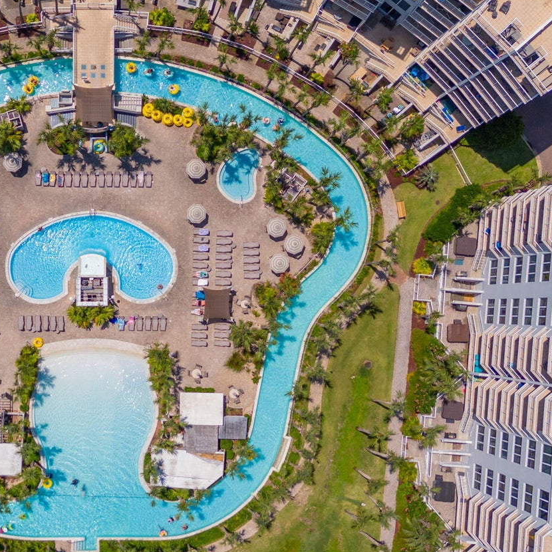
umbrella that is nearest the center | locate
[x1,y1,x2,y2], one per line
[268,253,290,274]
